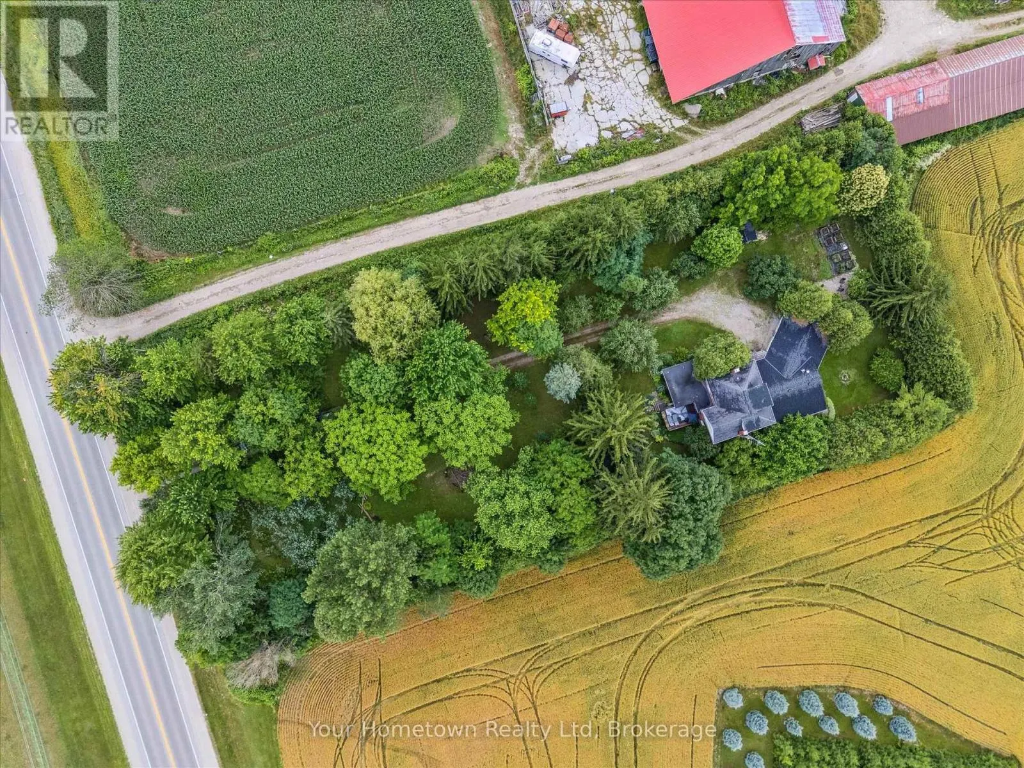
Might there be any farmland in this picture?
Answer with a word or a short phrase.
Yes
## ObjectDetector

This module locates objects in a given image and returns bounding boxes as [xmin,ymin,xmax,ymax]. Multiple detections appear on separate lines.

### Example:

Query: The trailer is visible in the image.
[527,31,579,69]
